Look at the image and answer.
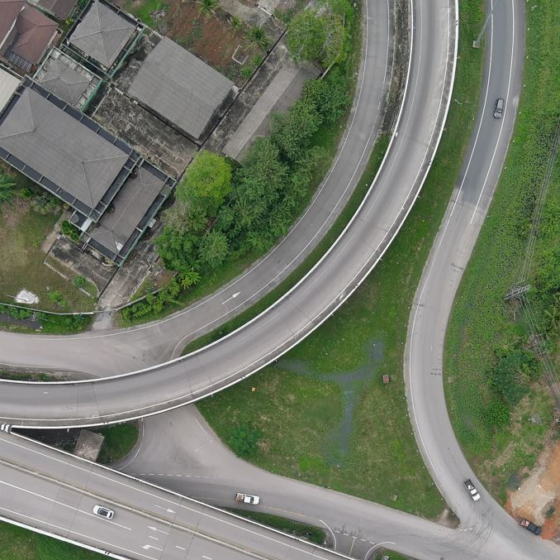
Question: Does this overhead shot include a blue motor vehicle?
No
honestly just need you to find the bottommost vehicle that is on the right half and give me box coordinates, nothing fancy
[515,517,543,536]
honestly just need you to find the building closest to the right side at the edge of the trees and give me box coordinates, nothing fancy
[128,38,236,139]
